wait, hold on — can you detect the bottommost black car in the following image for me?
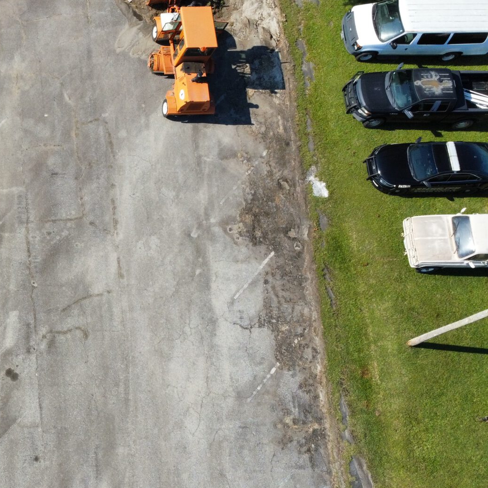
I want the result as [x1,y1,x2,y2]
[360,137,488,197]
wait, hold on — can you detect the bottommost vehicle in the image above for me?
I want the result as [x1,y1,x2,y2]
[396,207,488,272]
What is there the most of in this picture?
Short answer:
paved ground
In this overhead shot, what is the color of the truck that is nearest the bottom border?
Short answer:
white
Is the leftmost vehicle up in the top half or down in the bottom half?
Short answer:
top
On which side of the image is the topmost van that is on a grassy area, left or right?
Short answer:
right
